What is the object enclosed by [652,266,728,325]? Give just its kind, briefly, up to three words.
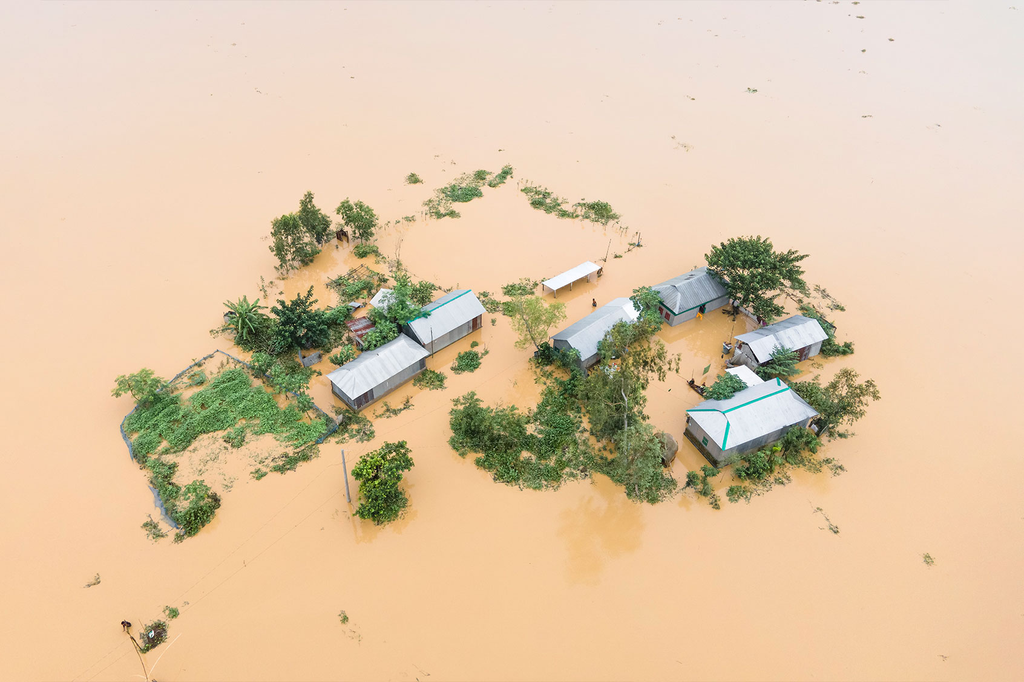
house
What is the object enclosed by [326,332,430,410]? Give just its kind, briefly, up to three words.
house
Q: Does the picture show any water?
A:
Yes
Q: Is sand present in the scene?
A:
No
